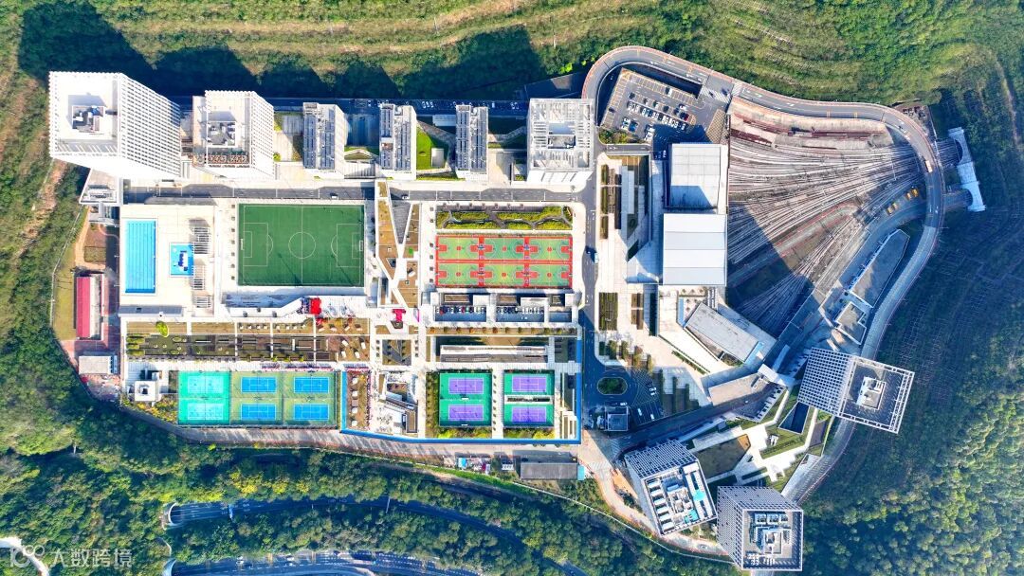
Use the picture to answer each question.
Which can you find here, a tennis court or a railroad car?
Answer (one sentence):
The one in the frame is a tennis court.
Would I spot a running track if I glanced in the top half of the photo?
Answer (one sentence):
No, in the top half of the photo there is no running track.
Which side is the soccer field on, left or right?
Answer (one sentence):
The soccer field appears in the left half of the scene.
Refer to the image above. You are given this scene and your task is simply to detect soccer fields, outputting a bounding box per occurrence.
[238,204,364,286]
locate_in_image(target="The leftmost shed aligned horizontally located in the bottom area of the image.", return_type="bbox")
[79,356,118,375]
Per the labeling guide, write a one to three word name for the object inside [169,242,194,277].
swimming pool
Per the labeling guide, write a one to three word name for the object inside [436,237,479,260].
basketball court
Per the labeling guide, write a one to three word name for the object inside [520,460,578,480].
shed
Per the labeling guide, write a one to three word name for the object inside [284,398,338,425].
tennis court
